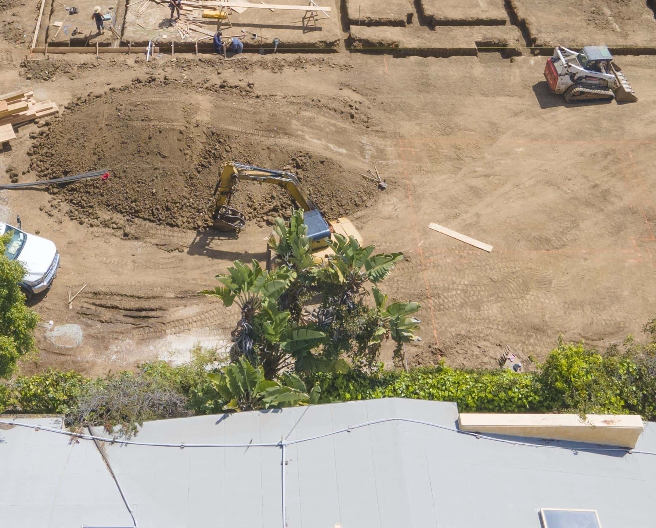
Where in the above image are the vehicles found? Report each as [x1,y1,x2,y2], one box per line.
[205,157,371,288]
[543,42,645,110]
[0,214,62,299]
